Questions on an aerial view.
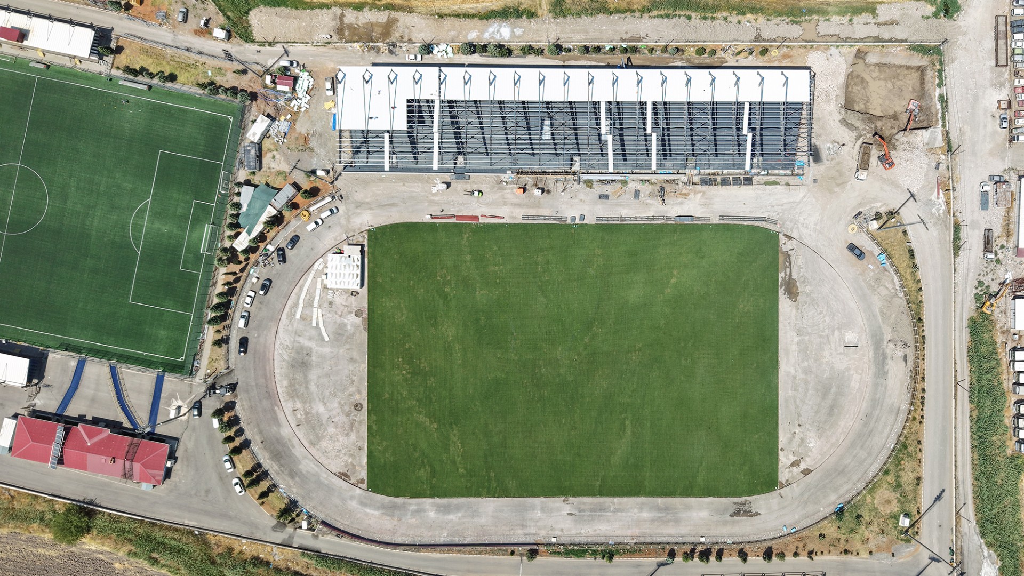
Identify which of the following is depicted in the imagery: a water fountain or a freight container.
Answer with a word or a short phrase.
freight container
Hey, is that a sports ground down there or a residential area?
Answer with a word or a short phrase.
sports ground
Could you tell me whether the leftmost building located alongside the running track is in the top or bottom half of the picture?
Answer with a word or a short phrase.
bottom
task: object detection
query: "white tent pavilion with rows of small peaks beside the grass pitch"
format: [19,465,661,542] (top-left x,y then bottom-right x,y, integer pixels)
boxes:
[328,254,363,289]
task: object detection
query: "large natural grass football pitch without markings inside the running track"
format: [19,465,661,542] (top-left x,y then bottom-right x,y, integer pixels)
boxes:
[366,224,780,497]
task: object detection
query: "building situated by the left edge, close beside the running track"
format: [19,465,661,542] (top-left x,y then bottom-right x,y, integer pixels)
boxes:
[0,415,172,486]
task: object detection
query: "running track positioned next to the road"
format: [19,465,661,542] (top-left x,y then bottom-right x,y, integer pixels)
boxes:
[226,192,916,545]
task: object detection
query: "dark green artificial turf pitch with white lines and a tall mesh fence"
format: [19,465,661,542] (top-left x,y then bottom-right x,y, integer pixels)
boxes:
[0,56,243,375]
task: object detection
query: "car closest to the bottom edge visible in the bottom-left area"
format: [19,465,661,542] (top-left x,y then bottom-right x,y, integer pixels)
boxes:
[233,477,246,495]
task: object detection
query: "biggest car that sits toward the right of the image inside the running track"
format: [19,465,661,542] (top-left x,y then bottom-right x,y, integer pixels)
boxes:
[846,243,865,259]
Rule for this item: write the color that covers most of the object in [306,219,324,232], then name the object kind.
white vehicle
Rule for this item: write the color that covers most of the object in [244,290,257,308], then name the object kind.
white vehicle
